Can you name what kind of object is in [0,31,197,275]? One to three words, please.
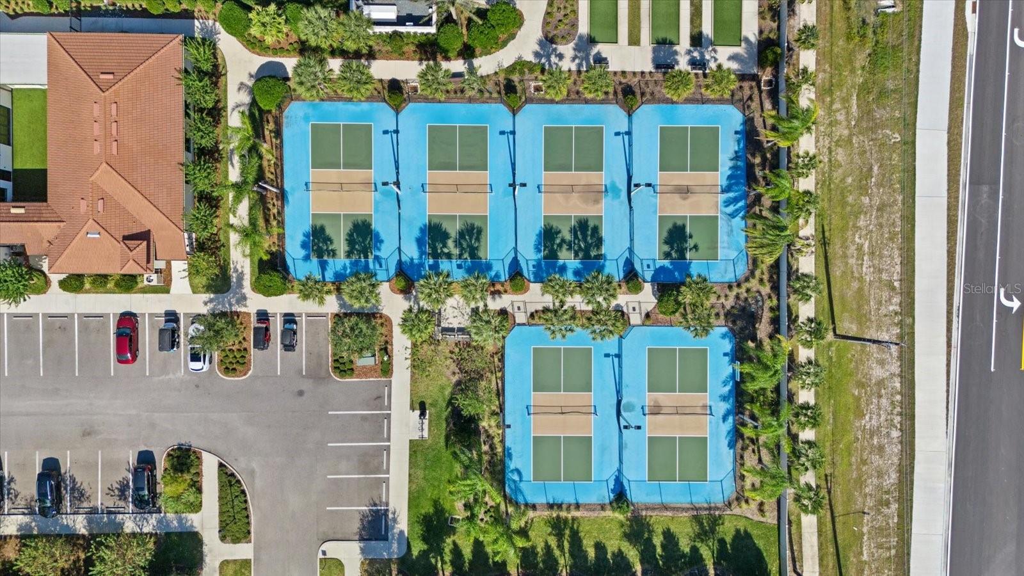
building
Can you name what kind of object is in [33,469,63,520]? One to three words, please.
car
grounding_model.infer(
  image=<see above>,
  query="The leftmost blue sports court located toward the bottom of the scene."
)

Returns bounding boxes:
[505,326,621,504]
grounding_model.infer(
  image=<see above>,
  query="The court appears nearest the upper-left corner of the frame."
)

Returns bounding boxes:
[283,101,403,281]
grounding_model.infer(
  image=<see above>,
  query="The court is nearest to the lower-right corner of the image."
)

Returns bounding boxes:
[621,327,736,504]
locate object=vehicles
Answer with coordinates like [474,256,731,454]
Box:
[158,327,179,353]
[33,469,63,520]
[254,325,273,350]
[281,324,300,353]
[186,321,211,373]
[129,464,156,513]
[112,315,138,365]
